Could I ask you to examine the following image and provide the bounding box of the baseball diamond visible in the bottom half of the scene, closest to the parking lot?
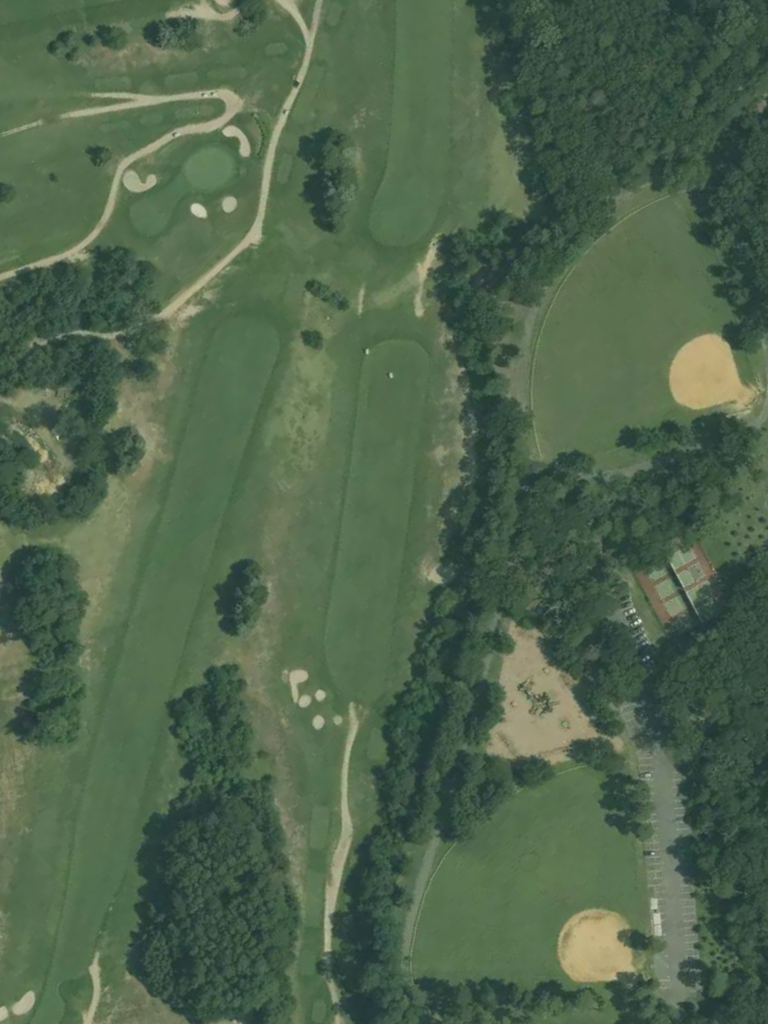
[411,764,647,998]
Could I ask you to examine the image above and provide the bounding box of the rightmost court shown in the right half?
[640,539,721,623]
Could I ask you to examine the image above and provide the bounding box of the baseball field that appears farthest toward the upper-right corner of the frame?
[532,191,761,459]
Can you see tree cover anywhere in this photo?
Yes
